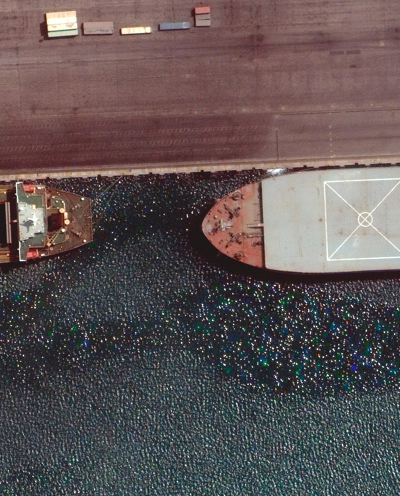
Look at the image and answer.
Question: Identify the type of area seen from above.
port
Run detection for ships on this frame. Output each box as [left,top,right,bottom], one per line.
[0,182,92,263]
[202,164,400,272]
